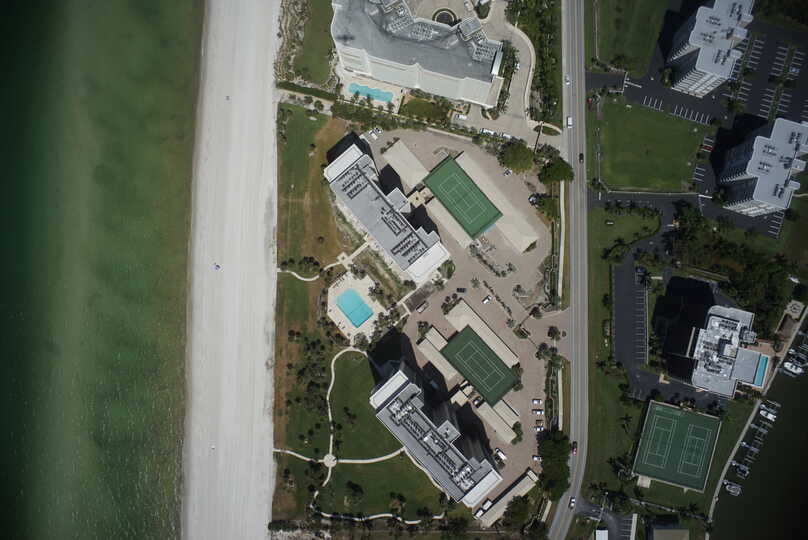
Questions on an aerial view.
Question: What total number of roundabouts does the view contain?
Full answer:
The count of roundabouts is 0.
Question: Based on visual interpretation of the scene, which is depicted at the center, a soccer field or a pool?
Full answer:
Visible at the center is a pool.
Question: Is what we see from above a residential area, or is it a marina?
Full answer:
This image shows a marina.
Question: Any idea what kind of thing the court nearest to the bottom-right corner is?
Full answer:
The court nearest to the bottom-right corner in the image is a tennis court.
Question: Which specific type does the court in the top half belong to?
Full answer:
I'd identify the court in the top half as a tennis court.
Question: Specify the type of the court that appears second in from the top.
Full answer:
It looks like the court that appears second in from the top is a tennis court.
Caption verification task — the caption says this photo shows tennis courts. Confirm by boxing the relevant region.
[441,325,519,407]
[423,155,503,238]
[631,399,723,493]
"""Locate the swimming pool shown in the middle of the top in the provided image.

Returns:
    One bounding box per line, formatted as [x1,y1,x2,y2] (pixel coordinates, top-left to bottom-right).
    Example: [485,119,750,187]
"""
[344,72,416,114]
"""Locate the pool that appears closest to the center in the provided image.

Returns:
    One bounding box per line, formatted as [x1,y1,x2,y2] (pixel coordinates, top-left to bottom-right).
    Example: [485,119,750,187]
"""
[327,272,387,345]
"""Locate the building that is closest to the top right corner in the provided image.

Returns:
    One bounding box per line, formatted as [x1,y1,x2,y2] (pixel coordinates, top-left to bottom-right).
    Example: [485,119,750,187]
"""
[666,0,754,96]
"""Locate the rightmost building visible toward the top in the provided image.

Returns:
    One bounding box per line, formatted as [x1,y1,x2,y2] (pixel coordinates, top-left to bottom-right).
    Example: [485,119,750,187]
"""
[720,118,808,218]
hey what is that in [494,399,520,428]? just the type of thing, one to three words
building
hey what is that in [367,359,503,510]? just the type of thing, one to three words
building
